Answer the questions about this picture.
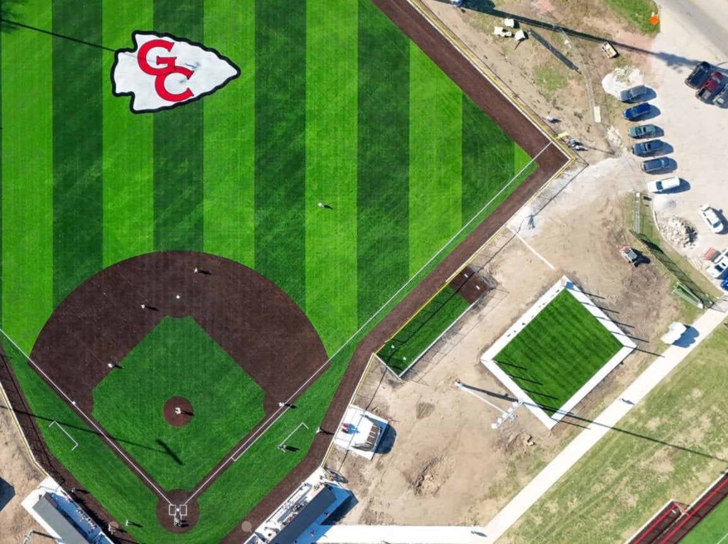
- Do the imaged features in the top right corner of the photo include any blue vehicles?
Yes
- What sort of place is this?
sports ground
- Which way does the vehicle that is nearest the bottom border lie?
at an angle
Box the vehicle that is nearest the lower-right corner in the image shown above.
[661,320,687,343]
